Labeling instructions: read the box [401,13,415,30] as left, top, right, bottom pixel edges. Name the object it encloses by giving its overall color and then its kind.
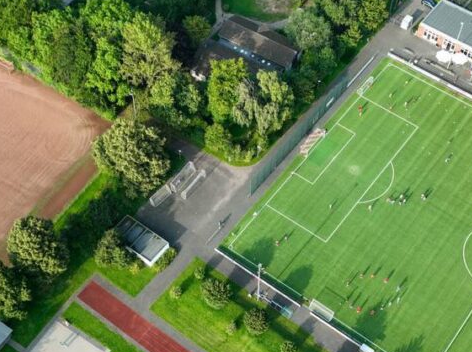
white vehicle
